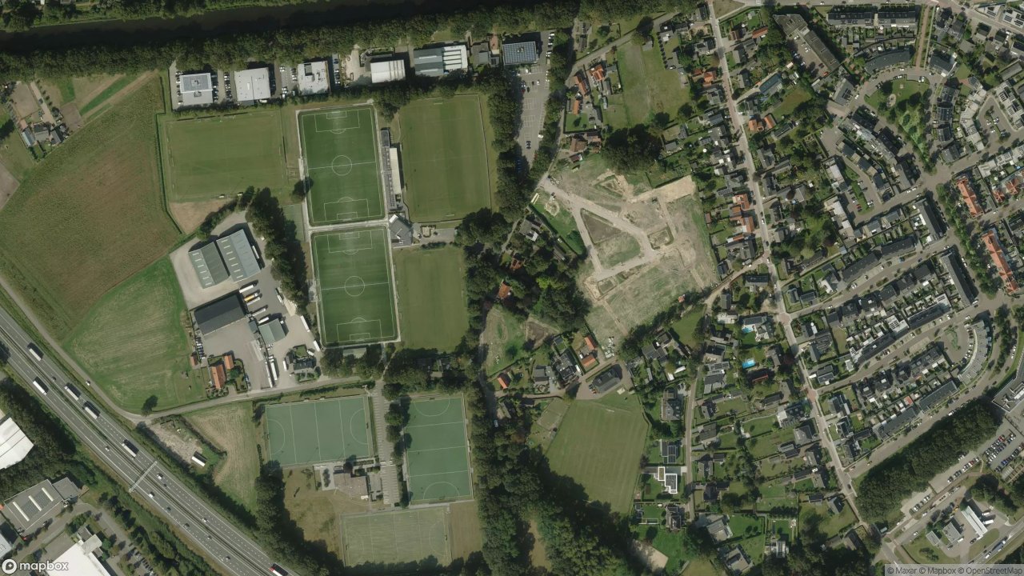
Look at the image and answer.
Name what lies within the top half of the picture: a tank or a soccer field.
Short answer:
soccer field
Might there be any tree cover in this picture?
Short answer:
Yes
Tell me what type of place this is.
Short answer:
residential area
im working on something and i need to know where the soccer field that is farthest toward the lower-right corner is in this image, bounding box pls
[549,398,649,513]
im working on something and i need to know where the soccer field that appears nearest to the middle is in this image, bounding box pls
[394,245,469,350]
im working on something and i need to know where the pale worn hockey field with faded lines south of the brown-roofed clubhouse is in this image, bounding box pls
[342,506,453,569]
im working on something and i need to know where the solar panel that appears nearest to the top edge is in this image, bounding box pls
[503,42,536,63]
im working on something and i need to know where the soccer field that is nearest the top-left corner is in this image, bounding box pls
[166,109,285,200]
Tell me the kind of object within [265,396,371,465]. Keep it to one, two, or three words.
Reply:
sports field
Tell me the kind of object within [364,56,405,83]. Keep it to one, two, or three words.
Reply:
building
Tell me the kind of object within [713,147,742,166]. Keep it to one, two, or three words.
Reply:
house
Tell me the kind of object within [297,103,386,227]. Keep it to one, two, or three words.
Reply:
soccer field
